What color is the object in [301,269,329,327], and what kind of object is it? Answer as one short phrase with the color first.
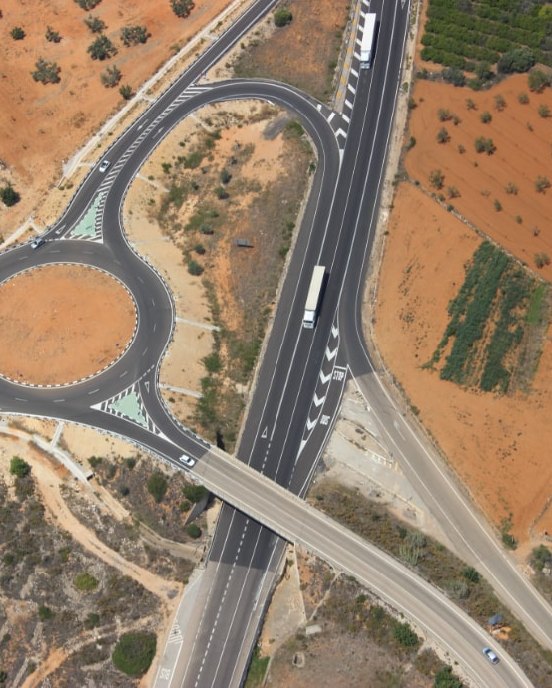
white truck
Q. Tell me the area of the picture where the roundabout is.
left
